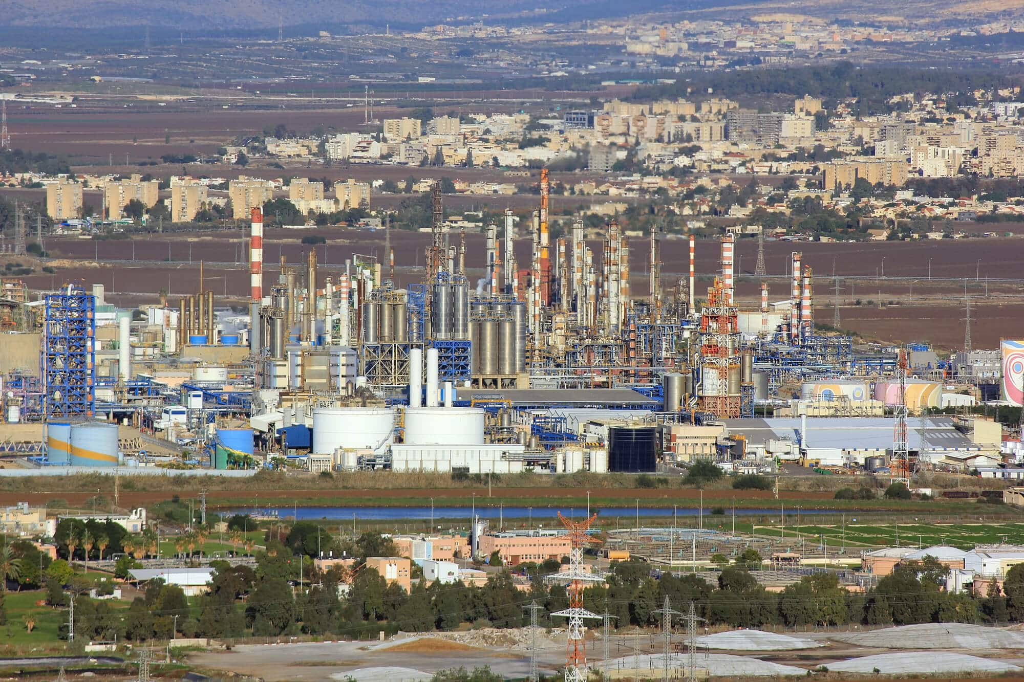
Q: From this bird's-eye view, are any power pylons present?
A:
Yes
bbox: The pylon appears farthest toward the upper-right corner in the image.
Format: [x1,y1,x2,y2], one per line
[960,297,975,350]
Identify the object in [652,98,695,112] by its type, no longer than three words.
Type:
building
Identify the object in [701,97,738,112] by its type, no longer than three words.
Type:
building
